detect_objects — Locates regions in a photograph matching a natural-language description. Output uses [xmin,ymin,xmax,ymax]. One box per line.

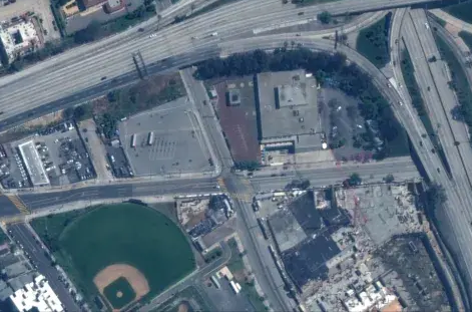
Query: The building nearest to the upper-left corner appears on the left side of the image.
[0,21,44,65]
